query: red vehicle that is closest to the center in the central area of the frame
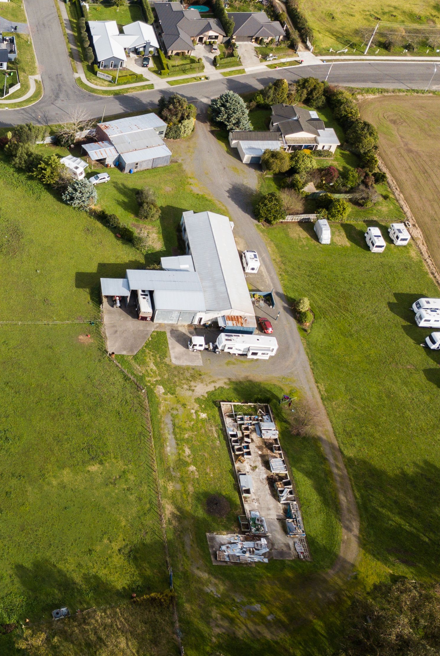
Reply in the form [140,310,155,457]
[258,316,276,332]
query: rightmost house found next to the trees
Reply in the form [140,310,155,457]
[264,107,340,154]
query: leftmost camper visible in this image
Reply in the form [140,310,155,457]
[63,151,87,177]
